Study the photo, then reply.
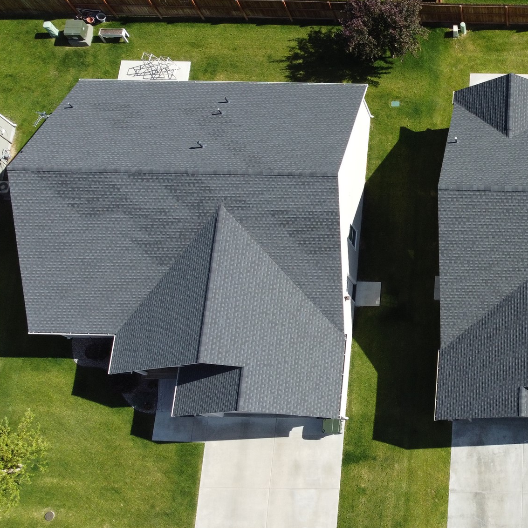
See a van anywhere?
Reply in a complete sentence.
No, there's no van here.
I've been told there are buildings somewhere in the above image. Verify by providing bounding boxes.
[8,77,381,422]
[0,111,17,181]
[430,73,528,422]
